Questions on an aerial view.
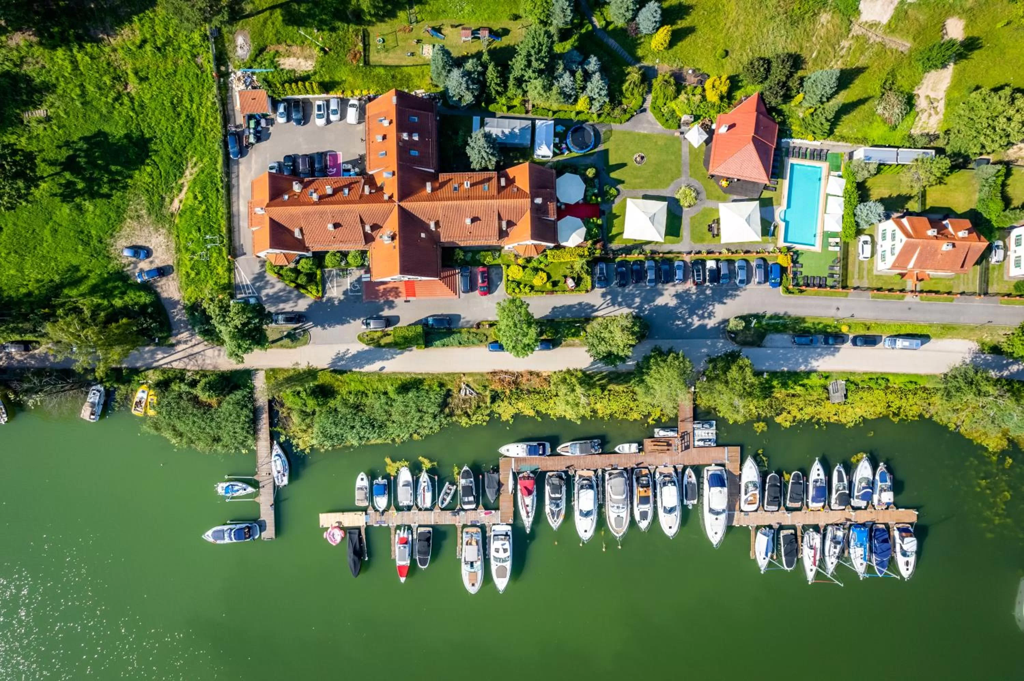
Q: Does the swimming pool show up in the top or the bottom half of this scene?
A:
top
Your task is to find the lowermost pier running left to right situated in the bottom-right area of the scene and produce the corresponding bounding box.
[733,509,917,526]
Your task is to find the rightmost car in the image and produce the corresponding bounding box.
[988,237,1007,267]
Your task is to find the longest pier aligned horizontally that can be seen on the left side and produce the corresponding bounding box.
[319,510,500,528]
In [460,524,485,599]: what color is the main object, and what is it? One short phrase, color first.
white boat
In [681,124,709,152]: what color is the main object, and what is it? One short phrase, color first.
white tent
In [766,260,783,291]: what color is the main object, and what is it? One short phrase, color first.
blue car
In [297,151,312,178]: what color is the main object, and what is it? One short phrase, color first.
black car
